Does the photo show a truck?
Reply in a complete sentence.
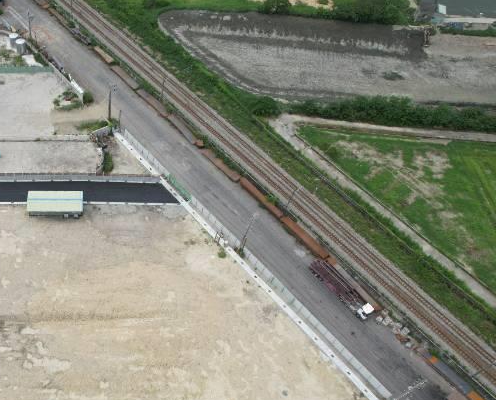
Yes, there's a truck down there.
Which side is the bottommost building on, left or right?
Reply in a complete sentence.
It is on the left.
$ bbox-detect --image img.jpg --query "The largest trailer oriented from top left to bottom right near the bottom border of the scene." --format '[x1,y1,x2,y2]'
[416,347,475,398]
